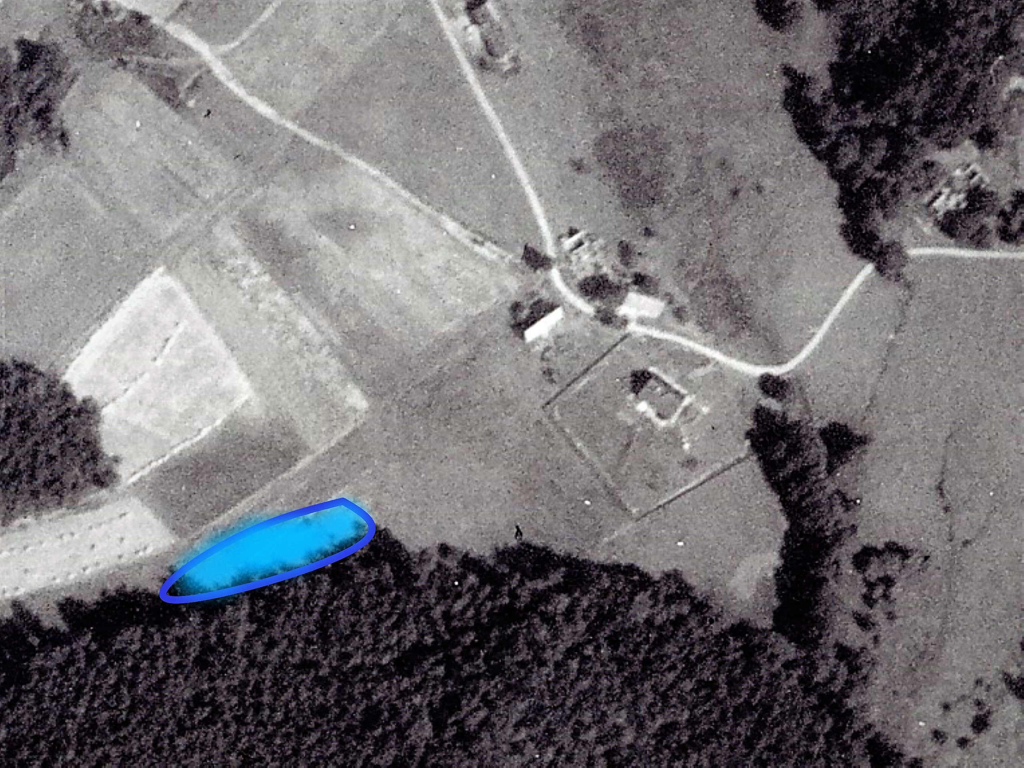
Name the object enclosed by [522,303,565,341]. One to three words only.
barn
